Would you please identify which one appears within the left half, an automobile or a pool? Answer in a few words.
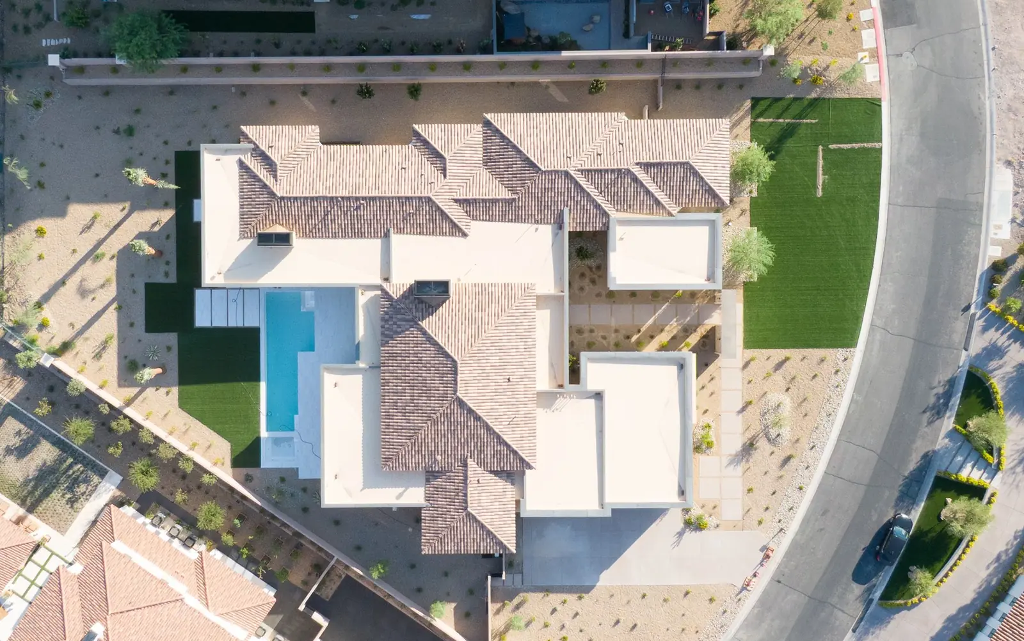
pool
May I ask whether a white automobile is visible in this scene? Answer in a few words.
No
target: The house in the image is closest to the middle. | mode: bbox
[201,112,731,557]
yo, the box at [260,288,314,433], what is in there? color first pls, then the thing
blue swimming pool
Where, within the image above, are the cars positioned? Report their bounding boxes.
[875,513,911,568]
